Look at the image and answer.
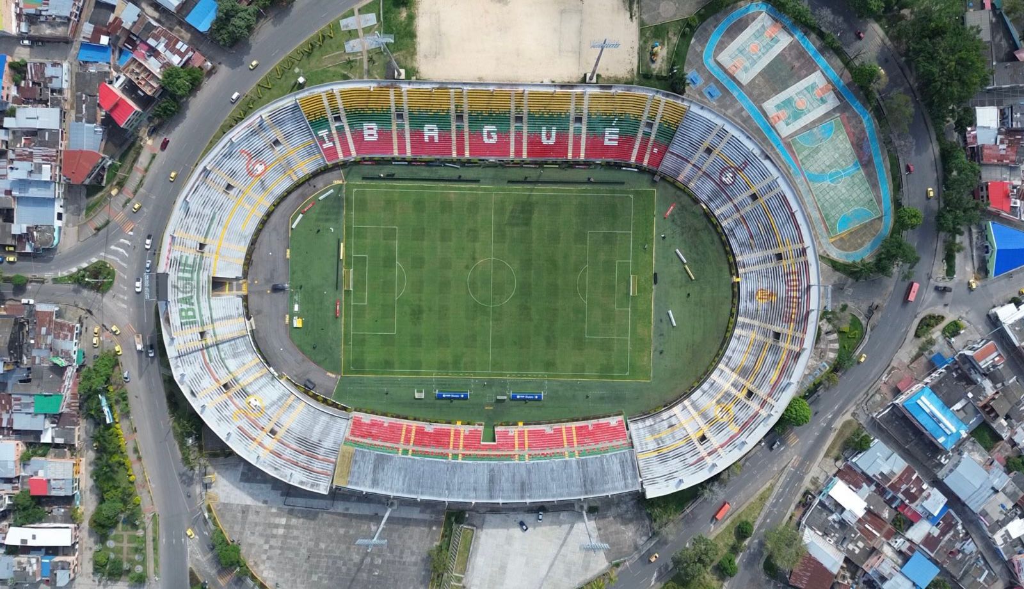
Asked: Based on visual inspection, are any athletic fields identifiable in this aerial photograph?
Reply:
Yes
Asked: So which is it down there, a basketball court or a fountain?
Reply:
basketball court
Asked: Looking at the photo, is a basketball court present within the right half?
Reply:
Yes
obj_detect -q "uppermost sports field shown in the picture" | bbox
[343,184,655,381]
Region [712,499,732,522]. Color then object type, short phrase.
red bus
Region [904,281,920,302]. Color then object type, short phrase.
red vehicle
